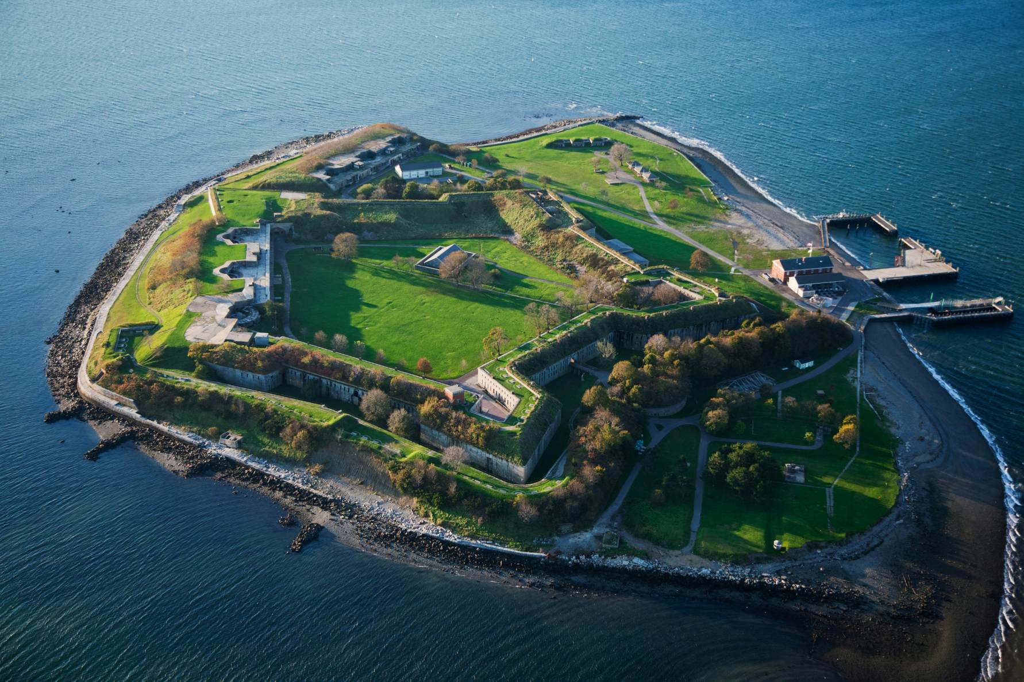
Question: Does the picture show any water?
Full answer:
Yes, there's water in this view.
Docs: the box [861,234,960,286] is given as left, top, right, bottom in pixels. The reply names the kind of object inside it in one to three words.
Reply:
pier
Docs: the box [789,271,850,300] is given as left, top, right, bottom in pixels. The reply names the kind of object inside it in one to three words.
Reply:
building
